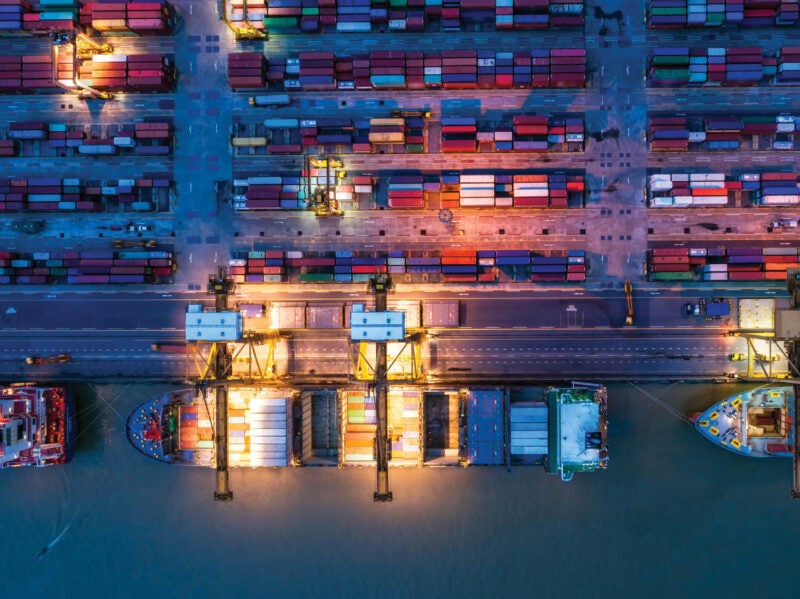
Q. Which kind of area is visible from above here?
port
